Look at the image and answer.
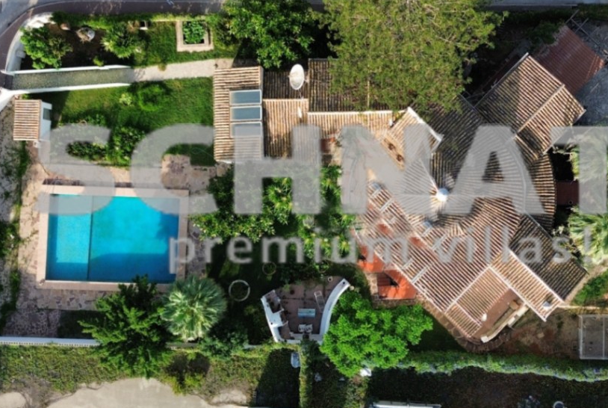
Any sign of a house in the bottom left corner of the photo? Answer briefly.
No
